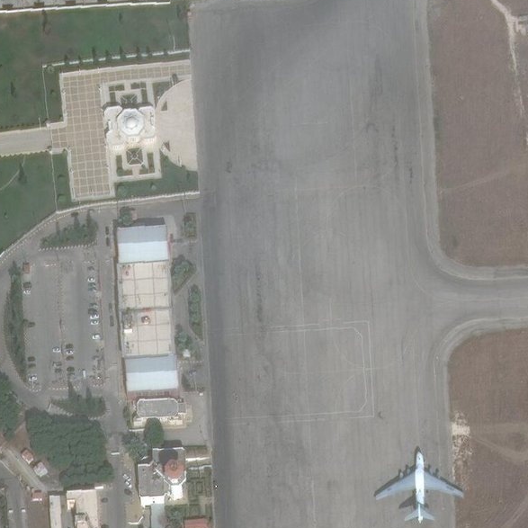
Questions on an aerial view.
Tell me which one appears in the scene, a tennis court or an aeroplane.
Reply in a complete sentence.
This aerial view contains an aeroplane.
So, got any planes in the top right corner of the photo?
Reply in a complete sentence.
No, there is no plane in the top right corner of the photo.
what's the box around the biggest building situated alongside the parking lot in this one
[117,224,180,405]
